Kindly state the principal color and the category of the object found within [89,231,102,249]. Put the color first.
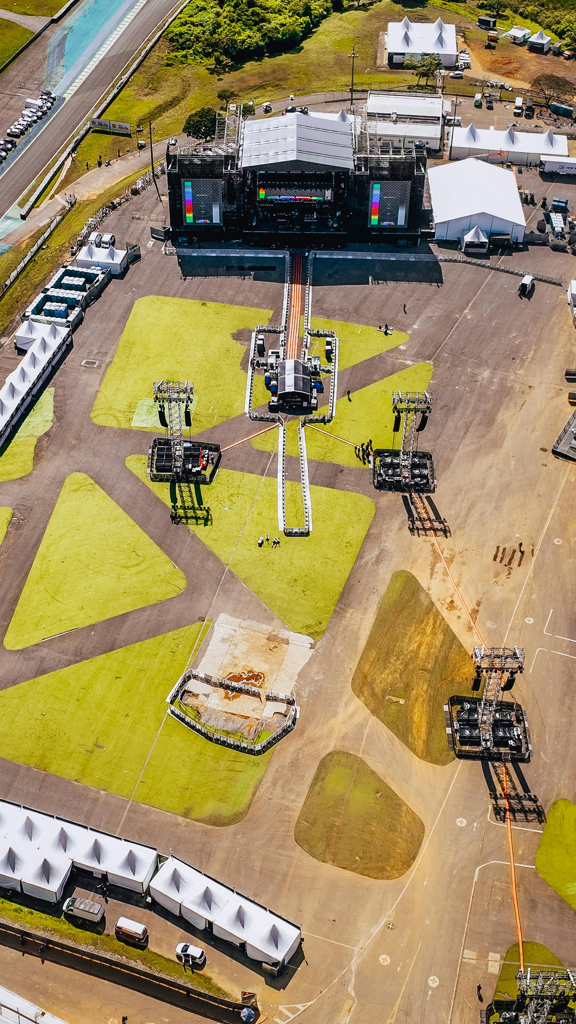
white vehicle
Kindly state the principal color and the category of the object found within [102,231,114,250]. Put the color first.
white vehicle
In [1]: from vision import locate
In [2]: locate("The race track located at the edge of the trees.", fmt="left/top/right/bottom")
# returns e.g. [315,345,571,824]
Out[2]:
[0,0,166,218]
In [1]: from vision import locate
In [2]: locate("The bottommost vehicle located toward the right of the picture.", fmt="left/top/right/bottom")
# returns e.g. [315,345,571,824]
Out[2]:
[519,274,536,294]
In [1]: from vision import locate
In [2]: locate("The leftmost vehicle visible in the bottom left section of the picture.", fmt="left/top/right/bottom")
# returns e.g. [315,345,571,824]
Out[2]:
[65,898,109,924]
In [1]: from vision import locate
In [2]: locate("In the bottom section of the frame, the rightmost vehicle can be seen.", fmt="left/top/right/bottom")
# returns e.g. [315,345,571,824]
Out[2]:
[173,945,209,970]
